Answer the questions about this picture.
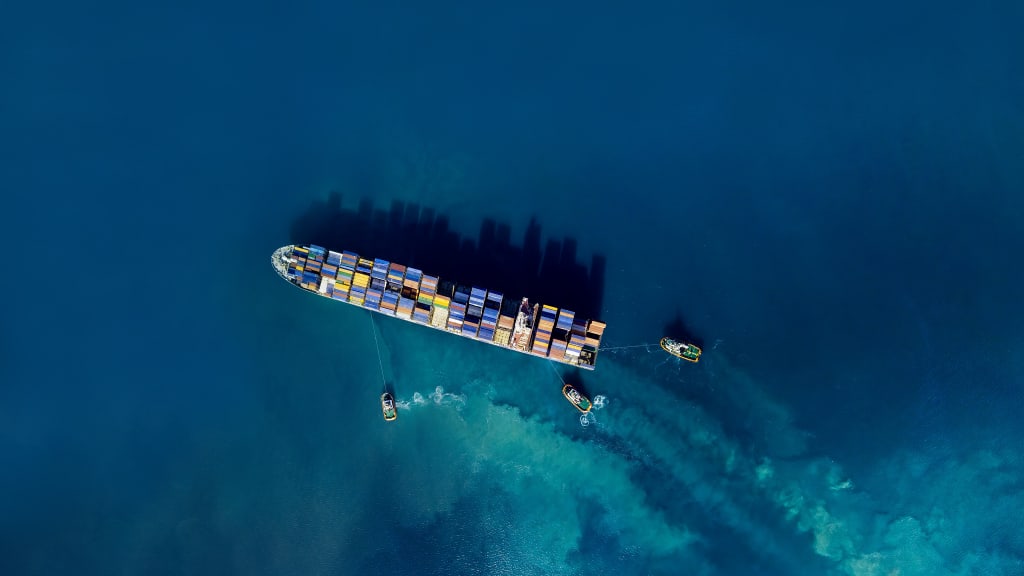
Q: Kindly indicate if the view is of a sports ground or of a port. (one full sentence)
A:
The area seen from above is a port.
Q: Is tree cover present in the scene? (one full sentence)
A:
No, no tree cover is visible.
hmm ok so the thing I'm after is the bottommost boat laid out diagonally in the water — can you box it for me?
[565,384,591,413]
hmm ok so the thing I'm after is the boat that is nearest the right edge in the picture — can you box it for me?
[661,339,701,362]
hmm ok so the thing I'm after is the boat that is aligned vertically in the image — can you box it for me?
[381,393,396,421]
